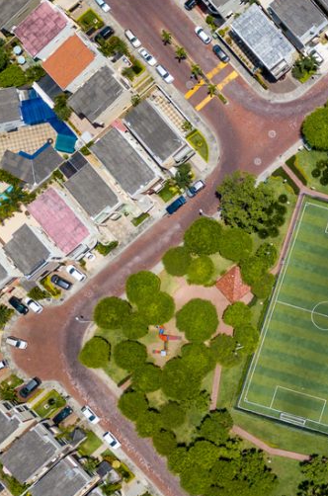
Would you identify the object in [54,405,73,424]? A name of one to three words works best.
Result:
car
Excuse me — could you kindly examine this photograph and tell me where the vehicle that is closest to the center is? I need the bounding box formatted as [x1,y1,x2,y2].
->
[165,194,187,214]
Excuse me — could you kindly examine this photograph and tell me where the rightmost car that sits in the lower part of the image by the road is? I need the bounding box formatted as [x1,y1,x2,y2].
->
[102,429,121,449]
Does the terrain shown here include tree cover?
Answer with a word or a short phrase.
Yes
